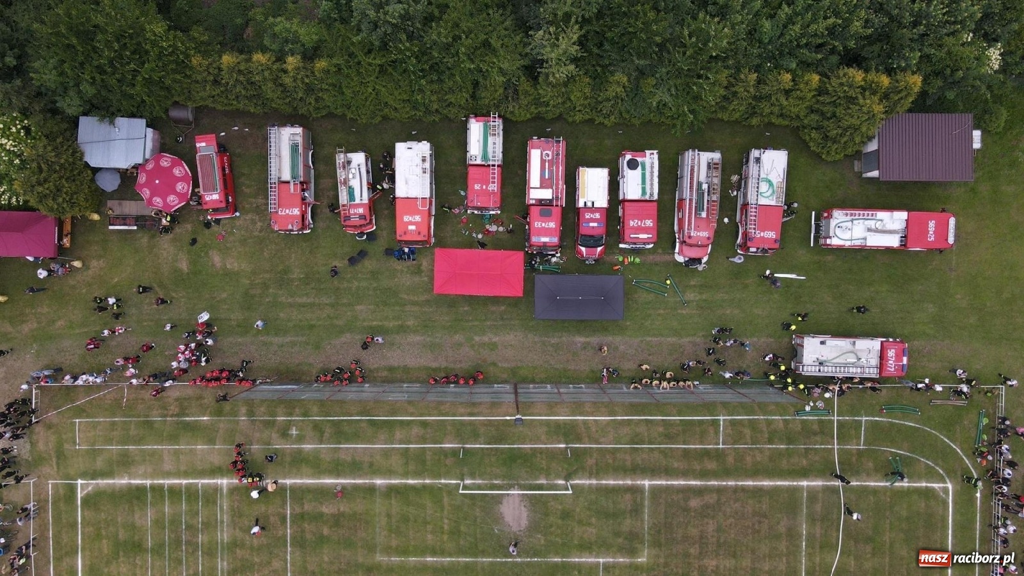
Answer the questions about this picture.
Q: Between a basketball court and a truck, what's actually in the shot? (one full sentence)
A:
I can see a truck in this picture.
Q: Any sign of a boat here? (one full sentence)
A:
No, no boat is visible in the view.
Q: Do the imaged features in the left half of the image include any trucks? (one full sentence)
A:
Yes, the scene does show a truck in the left half of the image.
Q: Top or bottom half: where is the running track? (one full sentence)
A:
The running track is in the bottom half of the image.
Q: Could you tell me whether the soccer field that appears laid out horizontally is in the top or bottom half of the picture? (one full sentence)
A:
It is in the bottom half that the soccer field that appears laid out horizontally appears.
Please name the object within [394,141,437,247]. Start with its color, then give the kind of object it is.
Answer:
white truck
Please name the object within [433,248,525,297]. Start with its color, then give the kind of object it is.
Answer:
red gazebo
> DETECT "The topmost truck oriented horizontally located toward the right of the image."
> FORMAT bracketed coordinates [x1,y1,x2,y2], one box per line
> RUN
[810,208,955,256]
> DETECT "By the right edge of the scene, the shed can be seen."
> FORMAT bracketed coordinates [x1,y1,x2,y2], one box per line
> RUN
[859,113,974,183]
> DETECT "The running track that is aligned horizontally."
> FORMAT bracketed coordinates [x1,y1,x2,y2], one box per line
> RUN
[73,411,979,576]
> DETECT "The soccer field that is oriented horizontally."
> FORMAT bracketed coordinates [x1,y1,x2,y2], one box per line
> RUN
[48,480,951,576]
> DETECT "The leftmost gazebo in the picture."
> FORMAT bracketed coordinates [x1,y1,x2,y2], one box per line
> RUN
[0,211,78,258]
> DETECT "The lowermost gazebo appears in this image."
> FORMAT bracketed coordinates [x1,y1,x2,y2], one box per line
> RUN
[534,274,624,320]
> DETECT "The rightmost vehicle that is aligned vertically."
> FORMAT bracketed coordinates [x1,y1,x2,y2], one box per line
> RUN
[730,147,787,254]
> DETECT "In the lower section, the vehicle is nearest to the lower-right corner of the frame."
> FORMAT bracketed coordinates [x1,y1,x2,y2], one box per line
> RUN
[789,334,908,380]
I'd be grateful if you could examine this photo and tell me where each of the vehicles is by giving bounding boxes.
[573,168,609,265]
[336,147,379,240]
[789,334,908,380]
[523,137,566,254]
[464,113,506,214]
[195,133,239,221]
[268,125,318,234]
[730,147,787,254]
[670,149,721,263]
[394,141,437,247]
[810,208,955,256]
[616,151,659,249]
